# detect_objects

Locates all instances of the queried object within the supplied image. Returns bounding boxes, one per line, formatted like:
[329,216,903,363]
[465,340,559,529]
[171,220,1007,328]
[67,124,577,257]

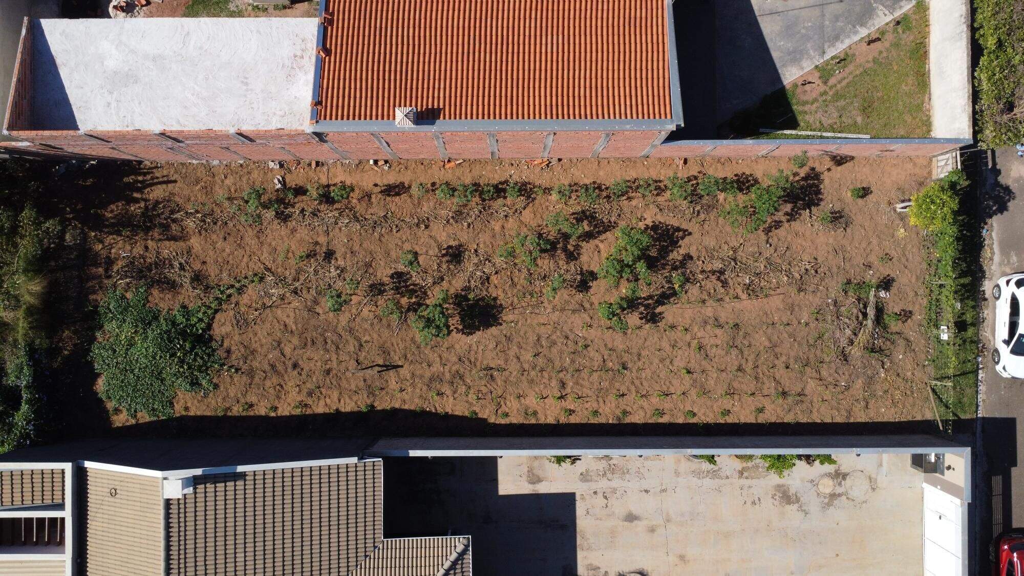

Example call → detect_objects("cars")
[991,530,1024,576]
[987,273,1024,379]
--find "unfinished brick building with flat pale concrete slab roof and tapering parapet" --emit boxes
[0,14,342,157]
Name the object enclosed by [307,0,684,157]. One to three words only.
house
